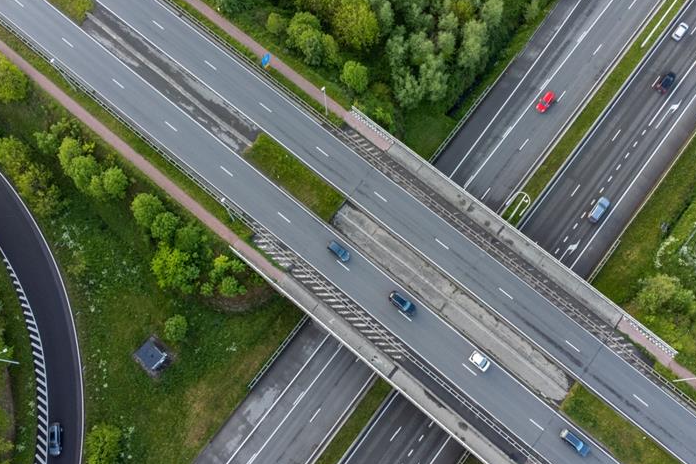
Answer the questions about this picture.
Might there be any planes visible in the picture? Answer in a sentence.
No, I find no plane anywhere in the image.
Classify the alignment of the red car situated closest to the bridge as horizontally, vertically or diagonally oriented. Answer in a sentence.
What the image shows is the red car situated closest to the bridge lying diagonally.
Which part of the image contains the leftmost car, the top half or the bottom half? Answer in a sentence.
The bottom half of the photo is where the leftmost car is.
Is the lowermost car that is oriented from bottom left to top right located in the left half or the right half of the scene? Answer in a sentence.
The lowermost car that is oriented from bottom left to top right sits on the right side.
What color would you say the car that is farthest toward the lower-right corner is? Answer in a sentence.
From above, the car that is farthest toward the lower-right corner appears blue.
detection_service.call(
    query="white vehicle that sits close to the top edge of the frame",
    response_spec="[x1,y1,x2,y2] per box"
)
[669,21,689,42]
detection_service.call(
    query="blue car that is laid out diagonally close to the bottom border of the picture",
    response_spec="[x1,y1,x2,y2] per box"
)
[556,426,591,458]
